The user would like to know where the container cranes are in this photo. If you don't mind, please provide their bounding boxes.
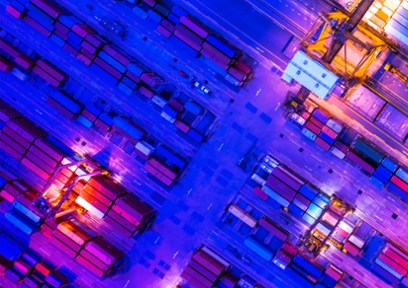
[22,157,108,225]
[299,190,356,258]
[278,0,389,116]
